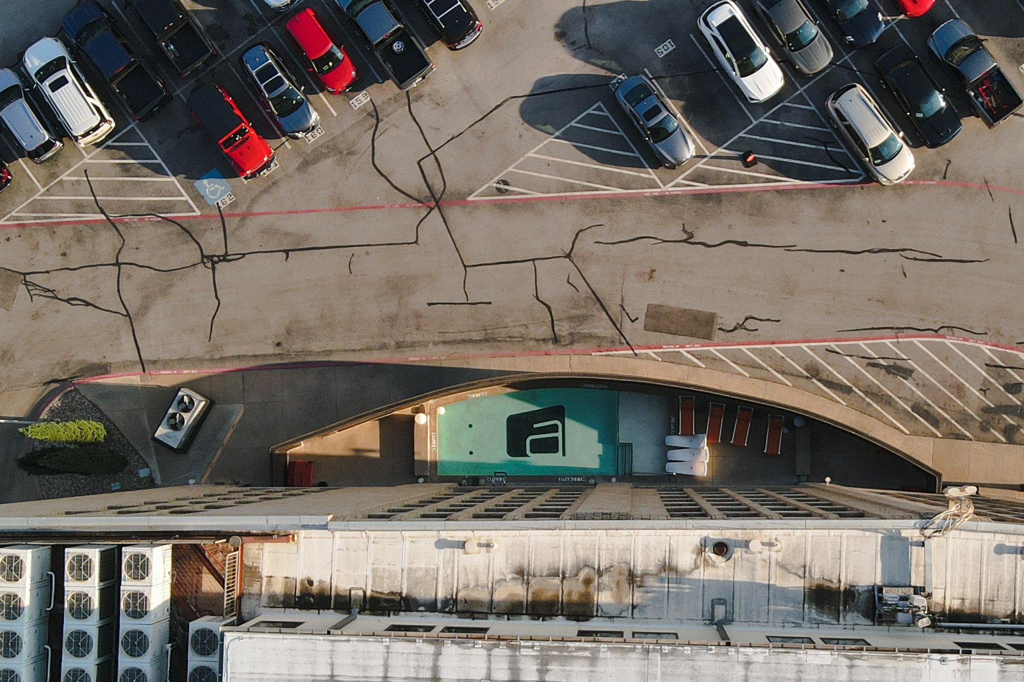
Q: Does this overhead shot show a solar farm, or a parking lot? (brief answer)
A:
parking lot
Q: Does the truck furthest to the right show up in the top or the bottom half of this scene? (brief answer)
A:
top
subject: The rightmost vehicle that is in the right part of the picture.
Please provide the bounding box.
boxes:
[931,15,1024,141]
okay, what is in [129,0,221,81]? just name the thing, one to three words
truck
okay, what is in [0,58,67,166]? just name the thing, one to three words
car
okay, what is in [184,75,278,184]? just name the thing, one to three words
car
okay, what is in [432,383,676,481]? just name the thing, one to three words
swimming pool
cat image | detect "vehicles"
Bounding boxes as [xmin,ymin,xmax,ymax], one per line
[931,15,1024,141]
[29,33,117,151]
[868,40,960,155]
[815,0,880,55]
[613,72,694,173]
[184,75,278,184]
[236,34,321,140]
[418,0,484,54]
[0,58,67,166]
[819,79,907,190]
[0,142,17,189]
[63,0,173,125]
[750,0,830,81]
[346,0,439,94]
[129,0,221,81]
[694,0,781,110]
[278,3,358,100]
